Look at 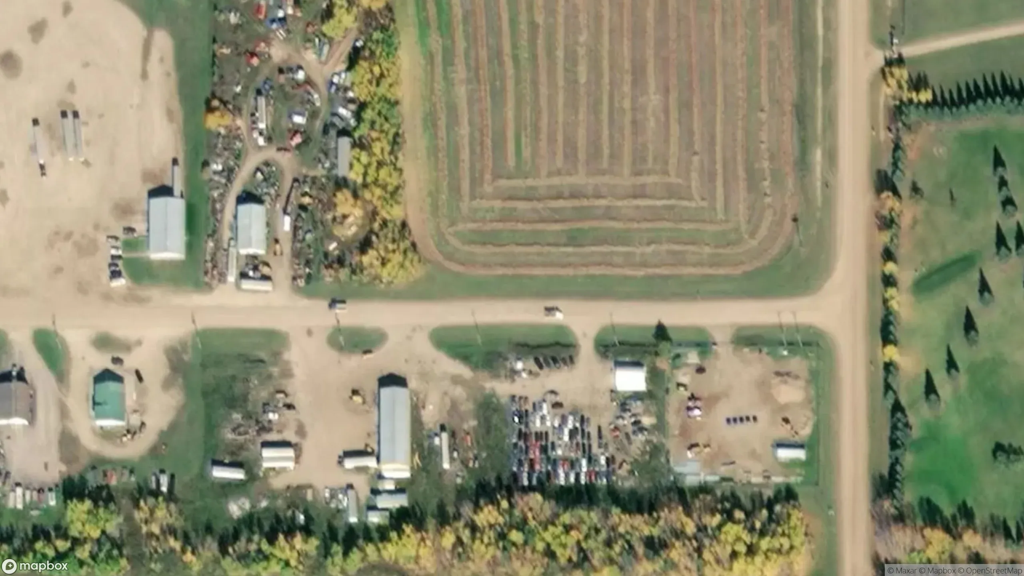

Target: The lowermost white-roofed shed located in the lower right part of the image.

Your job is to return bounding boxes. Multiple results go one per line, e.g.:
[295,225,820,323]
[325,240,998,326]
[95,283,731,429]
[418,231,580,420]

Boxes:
[776,448,806,463]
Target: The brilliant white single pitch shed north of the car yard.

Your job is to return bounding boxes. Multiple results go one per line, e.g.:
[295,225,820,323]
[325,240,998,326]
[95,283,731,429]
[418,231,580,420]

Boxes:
[615,364,647,396]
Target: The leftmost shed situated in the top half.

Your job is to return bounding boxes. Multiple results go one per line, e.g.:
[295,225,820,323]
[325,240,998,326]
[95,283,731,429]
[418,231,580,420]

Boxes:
[148,194,187,260]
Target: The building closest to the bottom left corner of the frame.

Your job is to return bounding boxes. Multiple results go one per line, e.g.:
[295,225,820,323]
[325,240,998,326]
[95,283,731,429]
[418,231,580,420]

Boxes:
[0,378,36,421]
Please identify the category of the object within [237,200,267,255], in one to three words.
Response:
shed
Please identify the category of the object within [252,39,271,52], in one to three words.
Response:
vehicle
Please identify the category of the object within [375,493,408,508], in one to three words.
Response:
building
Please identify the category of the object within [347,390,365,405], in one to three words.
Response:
work vehicle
